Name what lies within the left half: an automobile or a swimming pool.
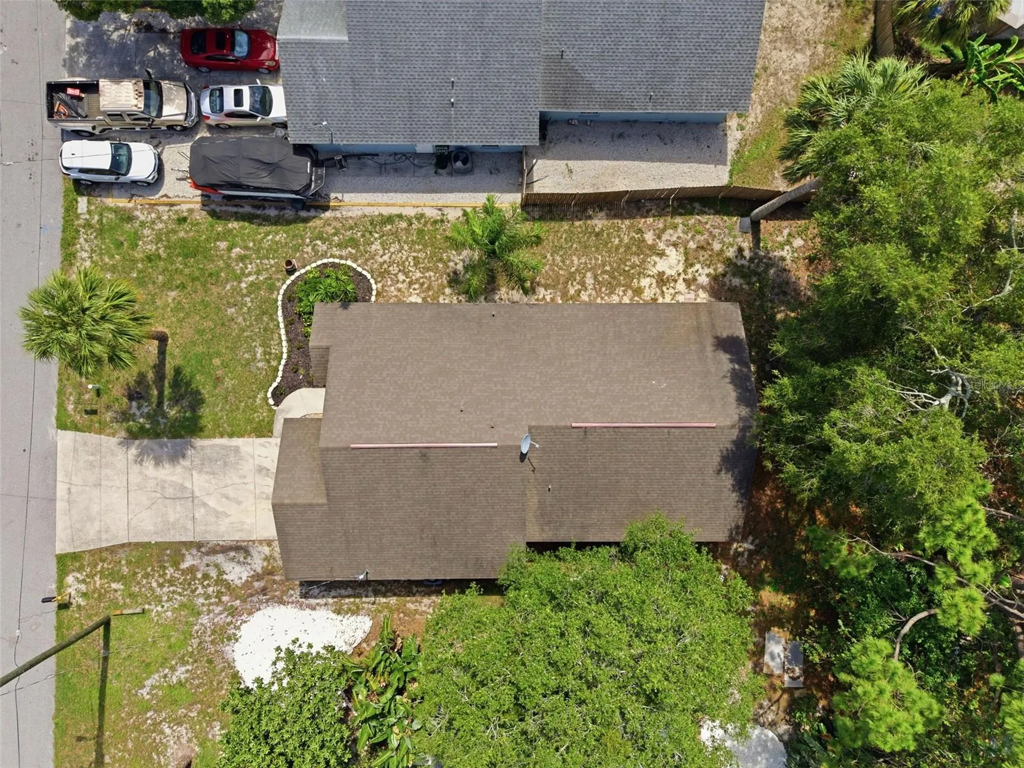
automobile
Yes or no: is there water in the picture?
No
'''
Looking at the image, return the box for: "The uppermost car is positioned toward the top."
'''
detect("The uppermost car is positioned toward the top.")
[179,21,281,76]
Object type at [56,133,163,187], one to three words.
car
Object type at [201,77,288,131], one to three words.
car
